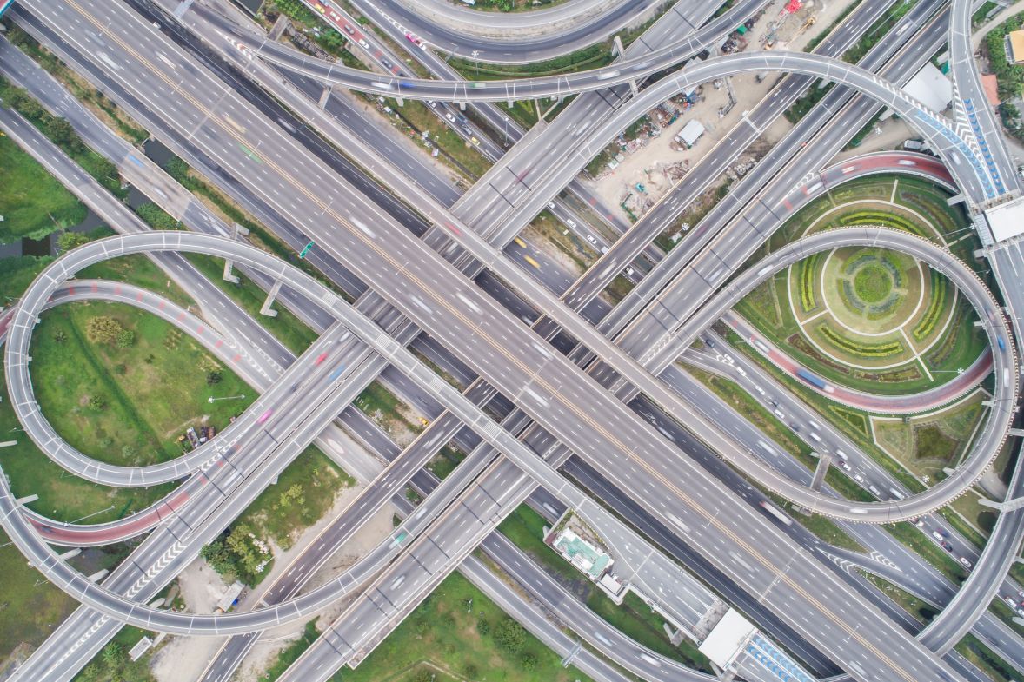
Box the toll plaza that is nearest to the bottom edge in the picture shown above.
[542,495,821,682]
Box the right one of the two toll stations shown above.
[957,173,1024,361]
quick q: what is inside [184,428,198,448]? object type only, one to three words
vehicle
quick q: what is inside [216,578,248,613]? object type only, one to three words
shed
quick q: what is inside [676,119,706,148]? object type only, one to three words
shed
